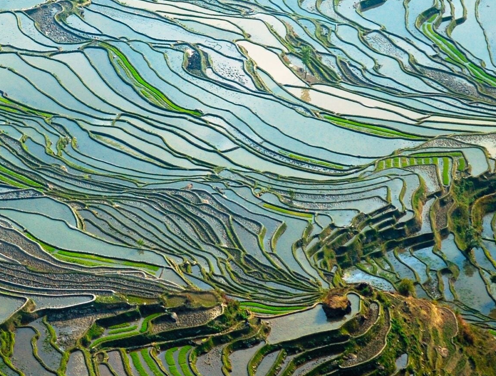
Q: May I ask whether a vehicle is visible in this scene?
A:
No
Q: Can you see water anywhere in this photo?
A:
Yes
